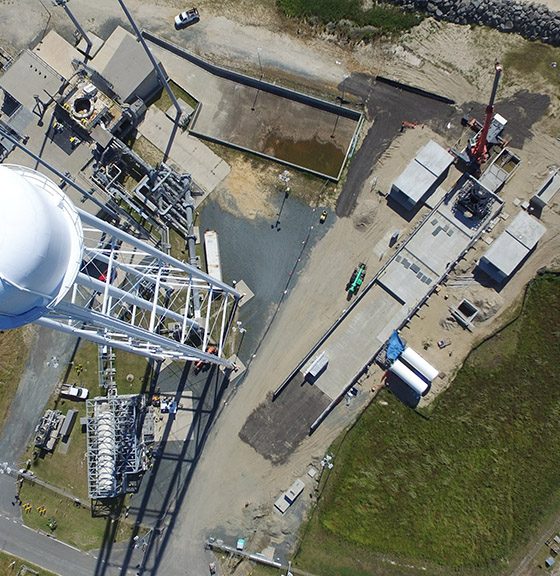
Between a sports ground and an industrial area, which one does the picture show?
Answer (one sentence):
The picture captures an industrial area.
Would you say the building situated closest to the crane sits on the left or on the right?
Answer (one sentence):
The building situated closest to the crane appears in the right half of the scene.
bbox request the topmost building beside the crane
[415,140,454,179]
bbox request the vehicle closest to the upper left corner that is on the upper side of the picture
[173,5,201,24]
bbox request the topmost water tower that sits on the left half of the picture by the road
[0,165,256,386]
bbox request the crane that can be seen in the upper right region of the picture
[454,64,512,170]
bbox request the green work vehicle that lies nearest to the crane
[347,259,367,292]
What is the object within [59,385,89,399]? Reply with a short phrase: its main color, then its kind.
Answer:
white vehicle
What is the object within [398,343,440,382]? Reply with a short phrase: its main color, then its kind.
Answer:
white storage tank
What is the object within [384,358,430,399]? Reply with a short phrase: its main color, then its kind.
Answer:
white storage tank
